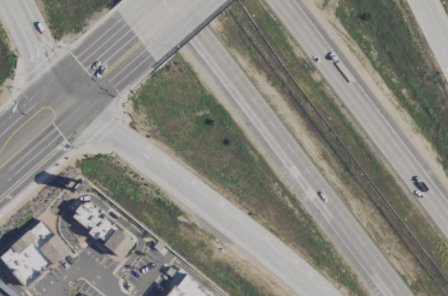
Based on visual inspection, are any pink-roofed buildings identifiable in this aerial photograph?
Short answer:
No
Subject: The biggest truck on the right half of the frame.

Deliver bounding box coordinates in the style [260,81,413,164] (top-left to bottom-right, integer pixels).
[331,56,359,91]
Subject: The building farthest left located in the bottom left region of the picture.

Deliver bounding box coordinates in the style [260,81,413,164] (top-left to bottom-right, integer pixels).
[0,220,70,287]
